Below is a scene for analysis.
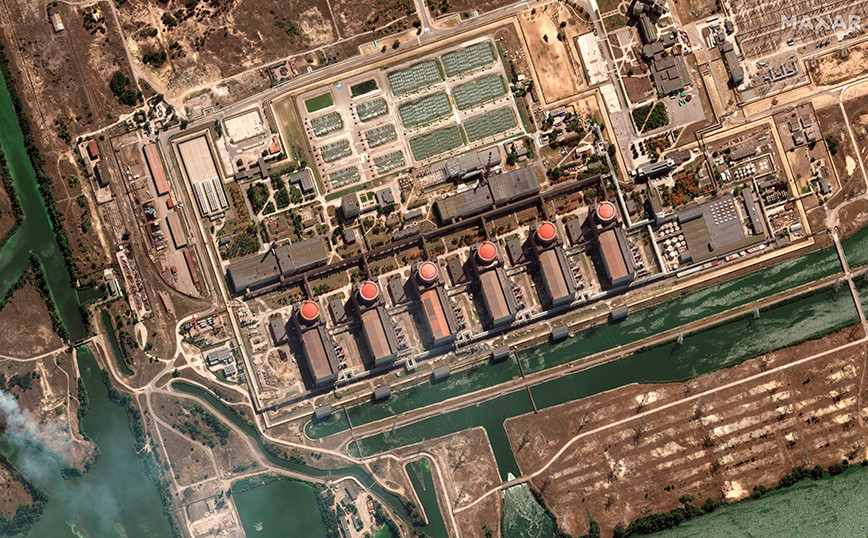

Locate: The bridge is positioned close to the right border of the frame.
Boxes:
[833,231,868,337]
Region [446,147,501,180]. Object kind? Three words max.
house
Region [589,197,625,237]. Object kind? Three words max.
building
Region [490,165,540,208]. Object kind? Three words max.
building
